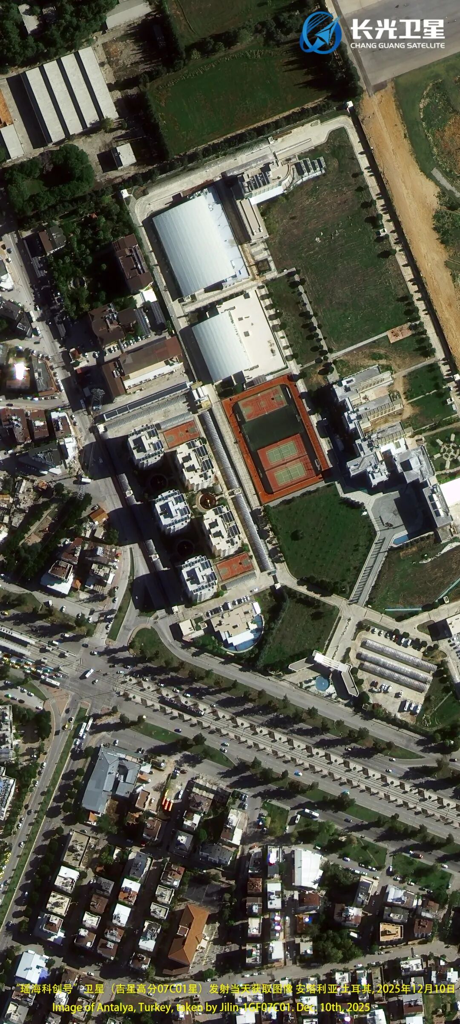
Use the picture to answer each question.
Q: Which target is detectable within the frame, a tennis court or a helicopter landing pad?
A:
tennis court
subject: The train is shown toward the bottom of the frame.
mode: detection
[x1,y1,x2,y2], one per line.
[163,694,204,713]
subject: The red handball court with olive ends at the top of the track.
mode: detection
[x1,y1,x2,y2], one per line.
[238,386,288,421]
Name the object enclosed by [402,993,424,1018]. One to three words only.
house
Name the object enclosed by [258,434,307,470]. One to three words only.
tennis court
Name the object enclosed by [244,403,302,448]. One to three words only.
soccer field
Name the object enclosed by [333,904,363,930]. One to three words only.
building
